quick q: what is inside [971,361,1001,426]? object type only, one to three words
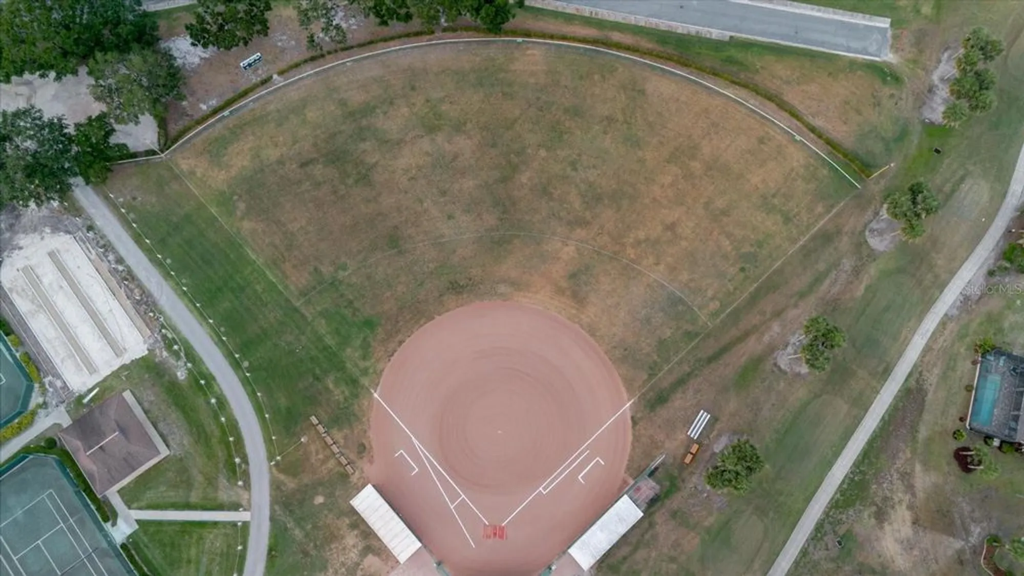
swimming pool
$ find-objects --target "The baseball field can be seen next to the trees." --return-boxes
[164,47,862,576]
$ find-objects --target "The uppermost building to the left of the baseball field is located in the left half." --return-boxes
[58,389,170,497]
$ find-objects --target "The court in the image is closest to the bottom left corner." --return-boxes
[0,458,123,576]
